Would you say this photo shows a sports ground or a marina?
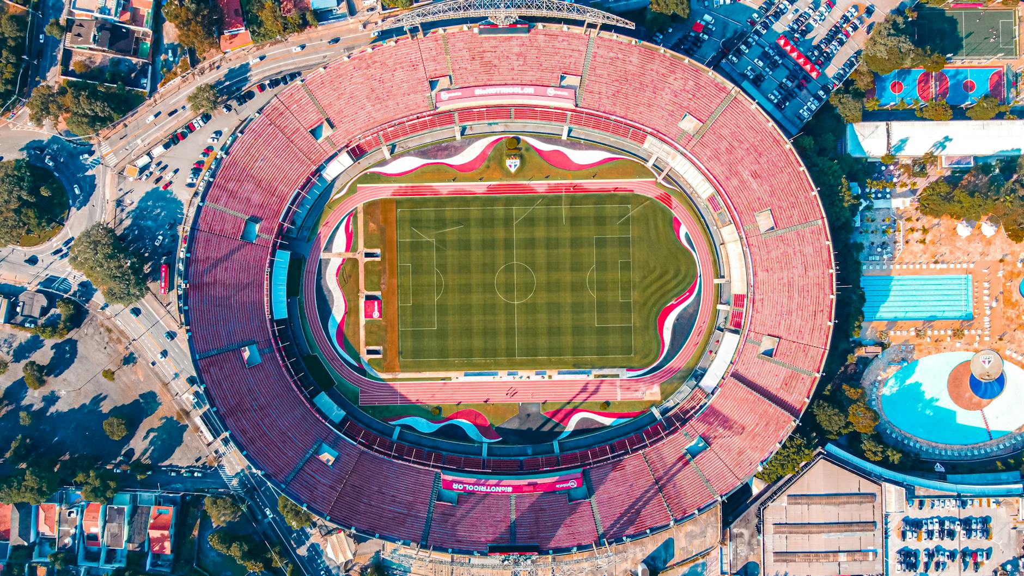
sports ground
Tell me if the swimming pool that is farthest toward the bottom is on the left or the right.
right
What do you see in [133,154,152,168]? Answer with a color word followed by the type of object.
white vehicle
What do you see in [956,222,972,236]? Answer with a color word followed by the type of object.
white umbrella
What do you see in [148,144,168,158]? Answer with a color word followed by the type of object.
white vehicle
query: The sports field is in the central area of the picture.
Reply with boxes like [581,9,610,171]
[397,193,698,372]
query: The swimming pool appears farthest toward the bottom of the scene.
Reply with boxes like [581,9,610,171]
[880,351,1024,446]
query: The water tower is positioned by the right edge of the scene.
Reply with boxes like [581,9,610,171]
[970,349,1004,383]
